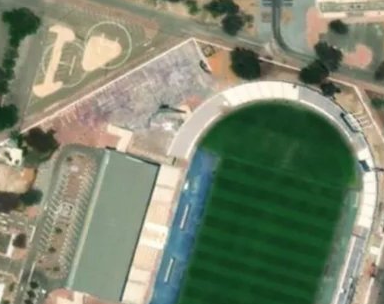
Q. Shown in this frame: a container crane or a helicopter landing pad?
helicopter landing pad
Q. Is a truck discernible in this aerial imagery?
No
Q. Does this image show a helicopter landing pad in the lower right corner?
No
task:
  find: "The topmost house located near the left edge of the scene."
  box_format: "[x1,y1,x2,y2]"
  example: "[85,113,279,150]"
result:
[0,147,22,167]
